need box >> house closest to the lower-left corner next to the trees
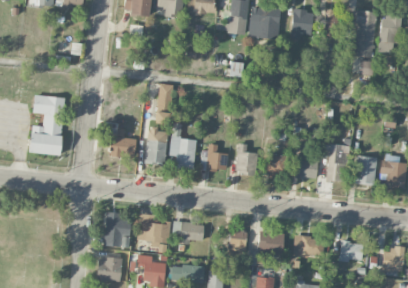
[98,255,124,283]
